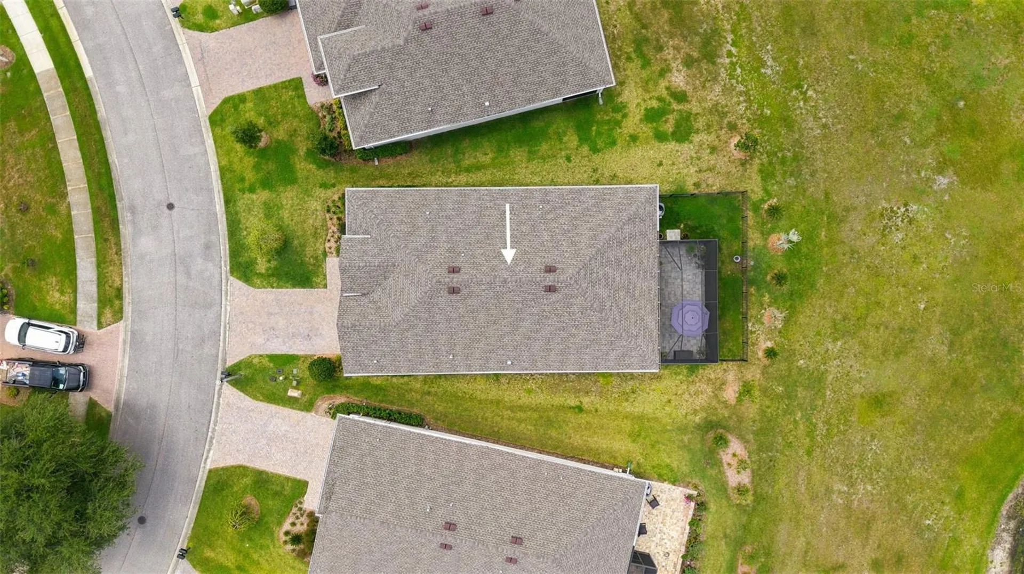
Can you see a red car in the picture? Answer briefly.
No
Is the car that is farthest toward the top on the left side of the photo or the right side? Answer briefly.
left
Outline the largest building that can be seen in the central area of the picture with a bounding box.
[336,182,663,378]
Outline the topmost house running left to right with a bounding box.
[295,0,616,150]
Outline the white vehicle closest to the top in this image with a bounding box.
[5,316,86,356]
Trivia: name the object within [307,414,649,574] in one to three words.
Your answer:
house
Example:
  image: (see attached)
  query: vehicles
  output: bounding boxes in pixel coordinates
[4,357,90,395]
[5,316,86,356]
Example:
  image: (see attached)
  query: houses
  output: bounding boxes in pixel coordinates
[336,182,663,378]
[295,0,616,150]
[307,414,649,574]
